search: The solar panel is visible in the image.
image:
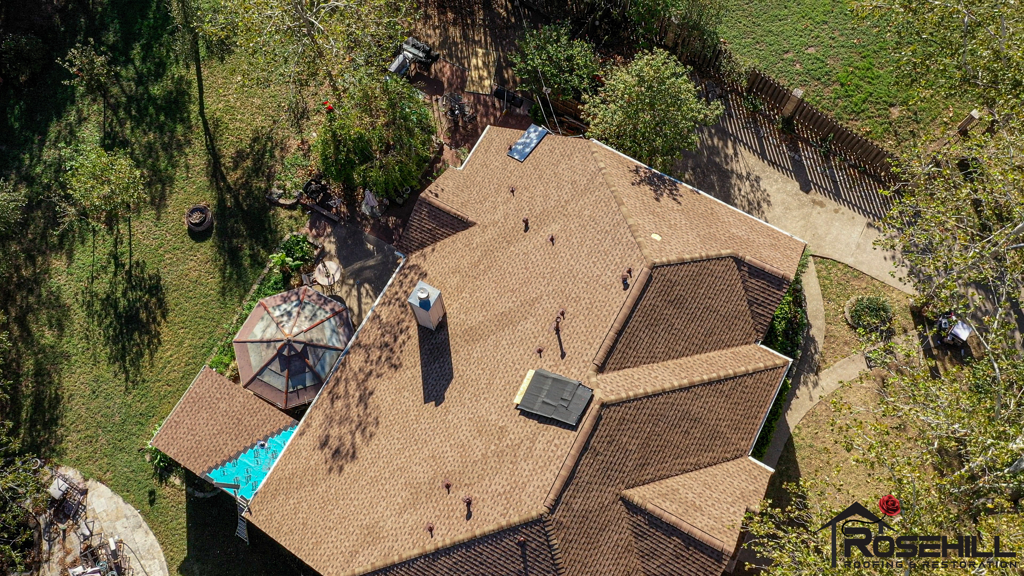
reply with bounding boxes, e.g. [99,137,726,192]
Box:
[508,124,549,164]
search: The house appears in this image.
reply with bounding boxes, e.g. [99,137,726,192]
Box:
[148,124,808,576]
